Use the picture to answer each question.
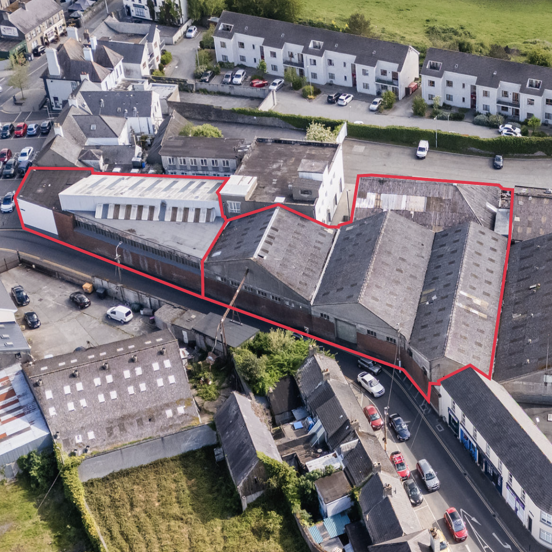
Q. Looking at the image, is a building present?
Yes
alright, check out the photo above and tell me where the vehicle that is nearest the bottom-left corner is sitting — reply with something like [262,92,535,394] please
[22,308,43,331]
